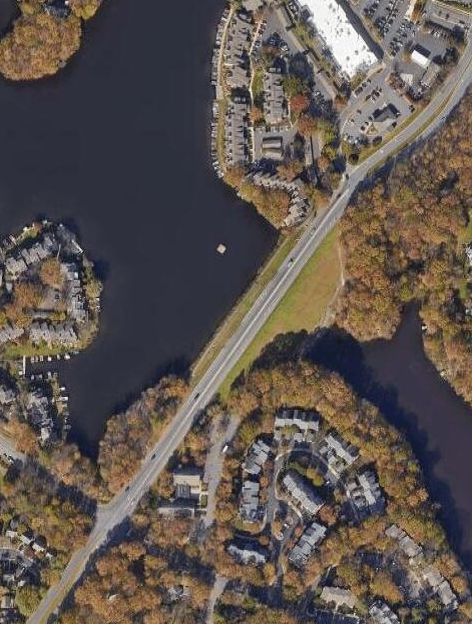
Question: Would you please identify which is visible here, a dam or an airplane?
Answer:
dam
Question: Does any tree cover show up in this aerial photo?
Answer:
Yes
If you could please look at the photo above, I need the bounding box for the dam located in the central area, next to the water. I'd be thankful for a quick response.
[189,237,283,377]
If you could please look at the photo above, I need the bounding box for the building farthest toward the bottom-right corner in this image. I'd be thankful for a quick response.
[436,582,459,610]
